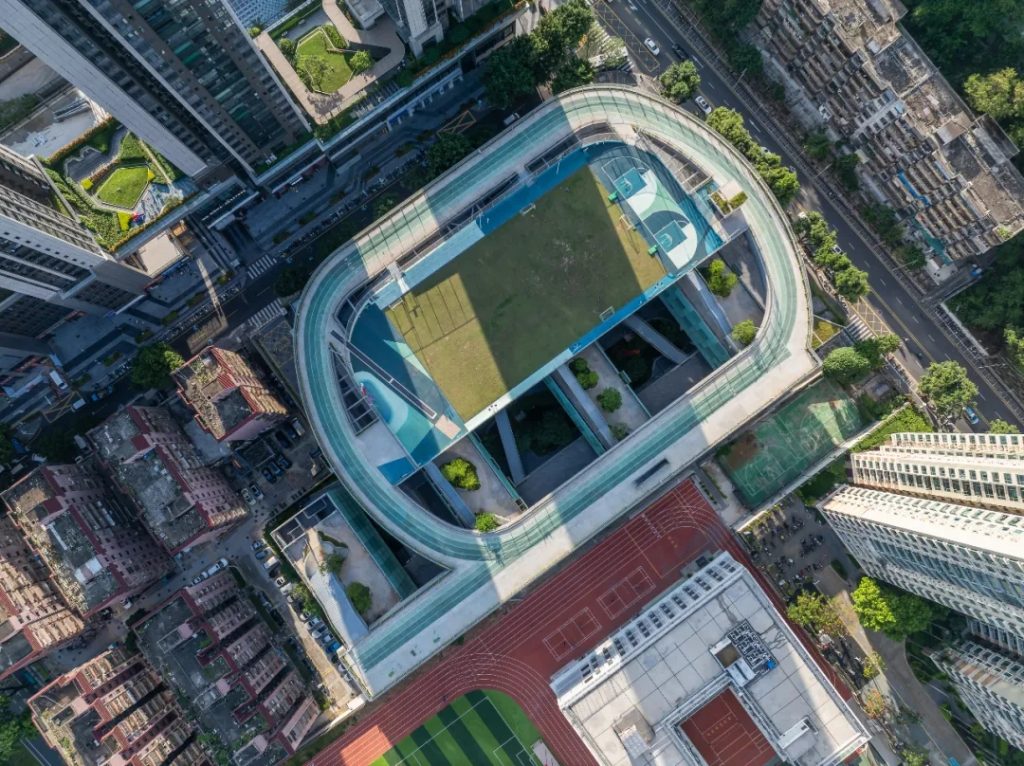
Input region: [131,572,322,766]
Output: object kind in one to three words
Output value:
building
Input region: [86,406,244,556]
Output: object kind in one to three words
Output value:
building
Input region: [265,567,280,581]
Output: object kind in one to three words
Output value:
car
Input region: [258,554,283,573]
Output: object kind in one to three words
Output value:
vehicle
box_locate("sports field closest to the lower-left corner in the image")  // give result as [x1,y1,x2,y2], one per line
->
[375,689,549,766]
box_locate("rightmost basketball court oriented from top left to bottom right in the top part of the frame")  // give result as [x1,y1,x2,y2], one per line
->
[583,142,724,269]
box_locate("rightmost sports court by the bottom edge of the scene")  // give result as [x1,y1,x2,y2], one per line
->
[673,684,773,766]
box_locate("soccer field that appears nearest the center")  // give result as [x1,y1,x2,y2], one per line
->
[374,149,677,430]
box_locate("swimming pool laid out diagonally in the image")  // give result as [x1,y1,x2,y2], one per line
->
[360,378,392,421]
